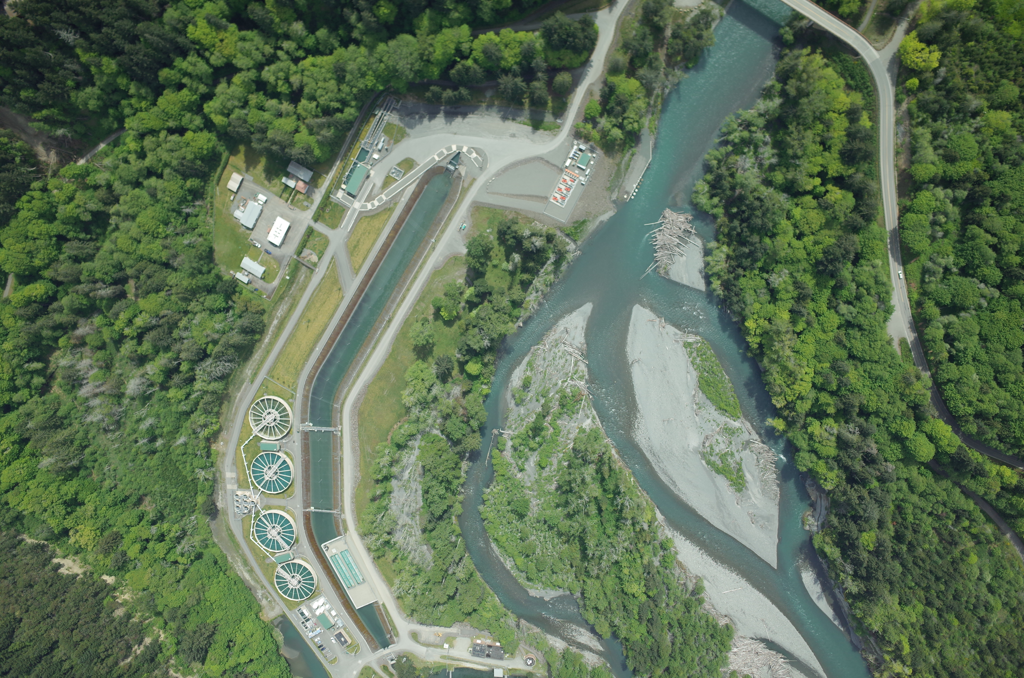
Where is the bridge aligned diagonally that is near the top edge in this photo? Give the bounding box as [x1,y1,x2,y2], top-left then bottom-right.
[782,0,871,54]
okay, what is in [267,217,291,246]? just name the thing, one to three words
building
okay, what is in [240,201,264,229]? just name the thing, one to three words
building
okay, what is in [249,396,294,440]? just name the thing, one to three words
storage tank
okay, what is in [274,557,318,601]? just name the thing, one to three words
storage tank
